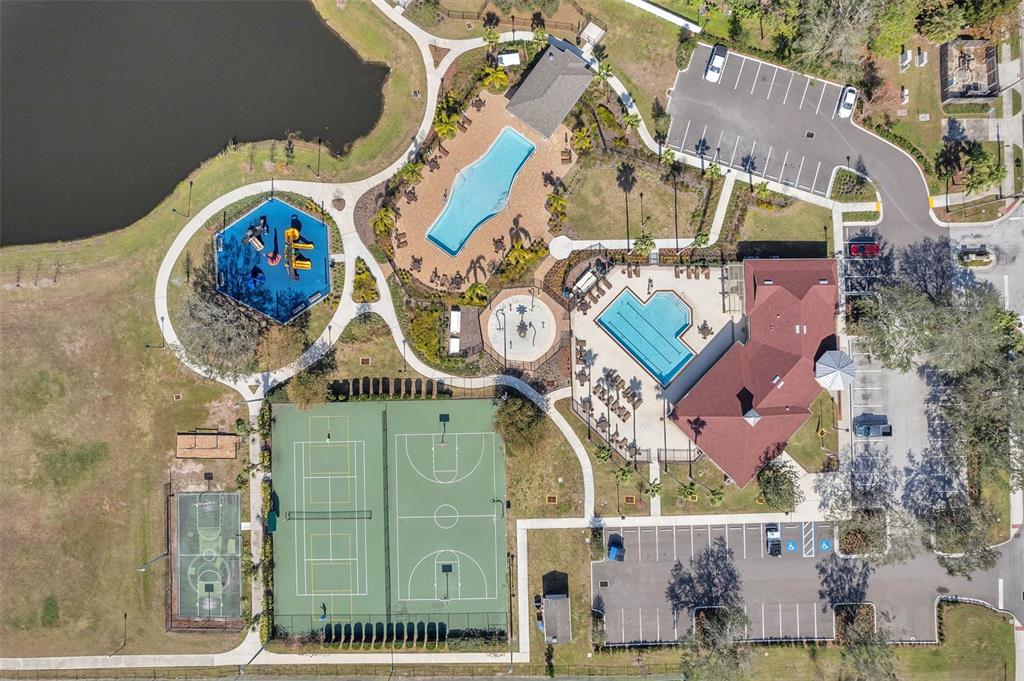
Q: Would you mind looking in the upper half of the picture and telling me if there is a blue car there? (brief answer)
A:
No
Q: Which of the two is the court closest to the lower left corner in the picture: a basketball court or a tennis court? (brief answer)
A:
basketball court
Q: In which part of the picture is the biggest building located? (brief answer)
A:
right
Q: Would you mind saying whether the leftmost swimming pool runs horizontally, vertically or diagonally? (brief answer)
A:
diagonally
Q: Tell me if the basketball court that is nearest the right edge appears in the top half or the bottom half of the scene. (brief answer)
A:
bottom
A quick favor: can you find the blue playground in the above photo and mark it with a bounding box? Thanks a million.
[215,197,330,324]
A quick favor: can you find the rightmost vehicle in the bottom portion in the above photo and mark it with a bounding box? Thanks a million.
[851,423,892,439]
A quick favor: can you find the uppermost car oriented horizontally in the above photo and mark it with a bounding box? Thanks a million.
[847,242,879,257]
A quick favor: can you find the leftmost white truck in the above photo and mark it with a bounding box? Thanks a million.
[704,44,727,85]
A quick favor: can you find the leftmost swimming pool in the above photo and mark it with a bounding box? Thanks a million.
[425,126,538,257]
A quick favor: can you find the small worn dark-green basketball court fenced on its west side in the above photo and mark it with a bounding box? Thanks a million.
[178,493,241,616]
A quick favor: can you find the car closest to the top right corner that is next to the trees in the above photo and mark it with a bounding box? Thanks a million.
[836,86,856,120]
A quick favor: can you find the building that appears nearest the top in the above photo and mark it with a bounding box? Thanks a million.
[506,45,594,140]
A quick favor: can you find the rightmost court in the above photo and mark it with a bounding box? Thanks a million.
[386,399,507,636]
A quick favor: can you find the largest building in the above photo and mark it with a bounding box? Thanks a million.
[668,259,837,489]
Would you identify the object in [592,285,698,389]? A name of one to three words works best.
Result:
swimming pool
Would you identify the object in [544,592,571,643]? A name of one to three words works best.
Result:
shed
